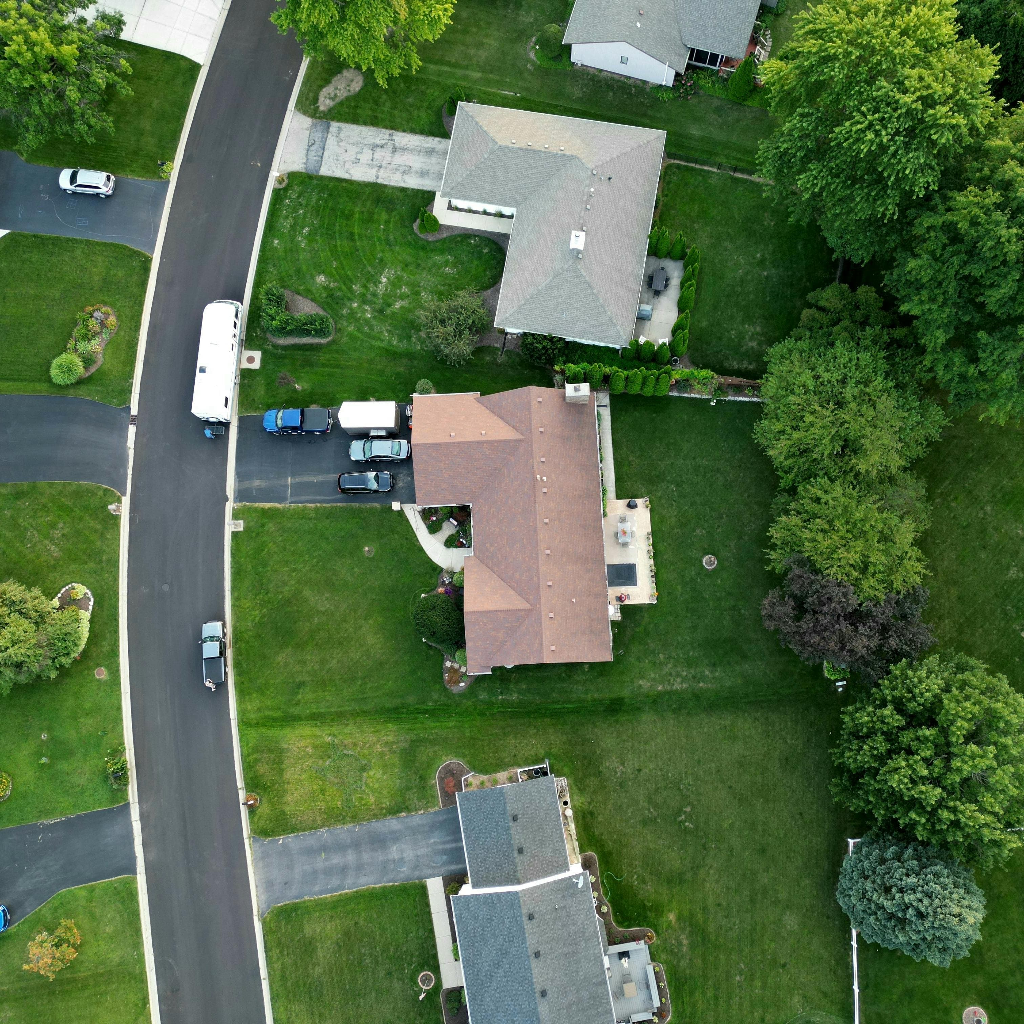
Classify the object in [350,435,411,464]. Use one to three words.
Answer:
car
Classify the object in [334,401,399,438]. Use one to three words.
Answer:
trailer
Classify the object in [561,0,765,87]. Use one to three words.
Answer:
house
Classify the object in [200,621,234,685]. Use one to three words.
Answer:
truck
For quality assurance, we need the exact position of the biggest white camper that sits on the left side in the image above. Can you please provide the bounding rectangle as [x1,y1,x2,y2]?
[189,300,243,437]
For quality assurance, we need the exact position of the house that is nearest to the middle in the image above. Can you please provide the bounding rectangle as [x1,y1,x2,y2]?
[411,383,615,677]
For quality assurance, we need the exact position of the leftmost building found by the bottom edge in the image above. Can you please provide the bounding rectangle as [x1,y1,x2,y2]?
[448,774,617,1024]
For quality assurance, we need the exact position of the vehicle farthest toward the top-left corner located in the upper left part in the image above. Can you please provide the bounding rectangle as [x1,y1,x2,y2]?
[60,168,120,202]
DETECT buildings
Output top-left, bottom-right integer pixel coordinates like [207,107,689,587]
[448,774,617,1024]
[438,100,668,354]
[411,383,615,677]
[561,0,765,87]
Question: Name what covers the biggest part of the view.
grass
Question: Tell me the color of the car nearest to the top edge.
white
